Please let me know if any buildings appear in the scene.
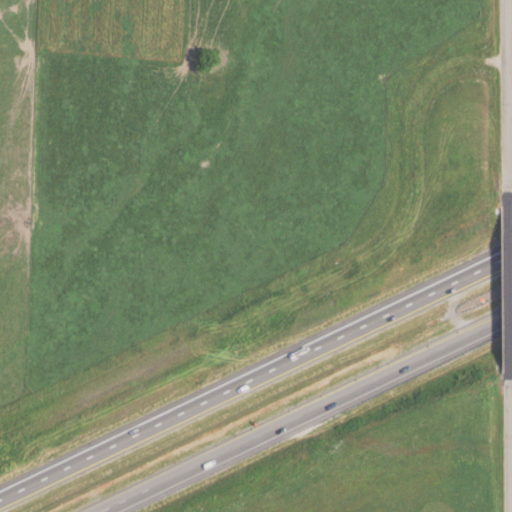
No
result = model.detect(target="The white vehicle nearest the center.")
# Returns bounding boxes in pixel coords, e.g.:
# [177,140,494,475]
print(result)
[289,348,310,361]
